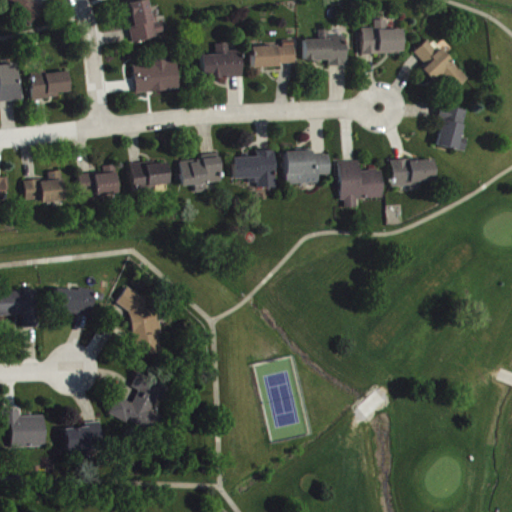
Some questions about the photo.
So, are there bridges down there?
Yes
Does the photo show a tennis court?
Yes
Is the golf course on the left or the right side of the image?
right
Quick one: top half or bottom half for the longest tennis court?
bottom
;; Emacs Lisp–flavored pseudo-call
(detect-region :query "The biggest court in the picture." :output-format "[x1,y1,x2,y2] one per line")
[252,354,312,444]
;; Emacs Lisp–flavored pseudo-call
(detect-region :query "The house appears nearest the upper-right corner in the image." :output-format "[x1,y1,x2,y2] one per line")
[413,40,470,86]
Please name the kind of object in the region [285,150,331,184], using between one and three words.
house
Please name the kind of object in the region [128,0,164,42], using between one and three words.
house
